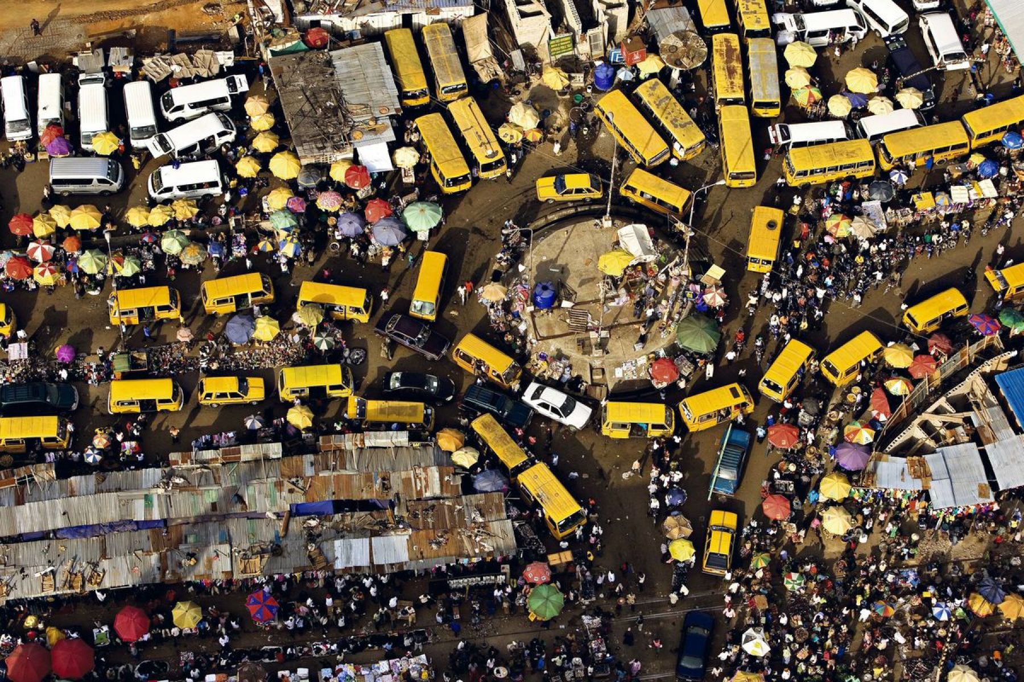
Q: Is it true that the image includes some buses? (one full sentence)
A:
Yes, a bus is visible in the scene.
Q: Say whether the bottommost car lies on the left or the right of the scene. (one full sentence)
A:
The bottommost car is on the right side of the image.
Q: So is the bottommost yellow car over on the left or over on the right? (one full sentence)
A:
You can find the bottommost yellow car on the right side of the picture.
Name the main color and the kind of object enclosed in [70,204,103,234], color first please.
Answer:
yellow umbrella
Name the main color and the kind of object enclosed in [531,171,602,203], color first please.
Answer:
yellow car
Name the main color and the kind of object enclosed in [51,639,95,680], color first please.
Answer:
red umbrella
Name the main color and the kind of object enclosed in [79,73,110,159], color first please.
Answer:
white van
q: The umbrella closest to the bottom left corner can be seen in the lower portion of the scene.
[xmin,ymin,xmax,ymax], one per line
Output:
[7,643,51,682]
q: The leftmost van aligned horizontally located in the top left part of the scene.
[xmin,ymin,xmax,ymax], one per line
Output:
[49,159,130,196]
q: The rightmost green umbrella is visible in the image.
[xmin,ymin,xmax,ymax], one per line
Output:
[999,308,1024,334]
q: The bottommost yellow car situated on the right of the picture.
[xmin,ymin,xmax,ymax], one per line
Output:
[701,505,739,576]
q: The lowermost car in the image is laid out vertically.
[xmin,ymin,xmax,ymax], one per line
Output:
[673,616,714,682]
